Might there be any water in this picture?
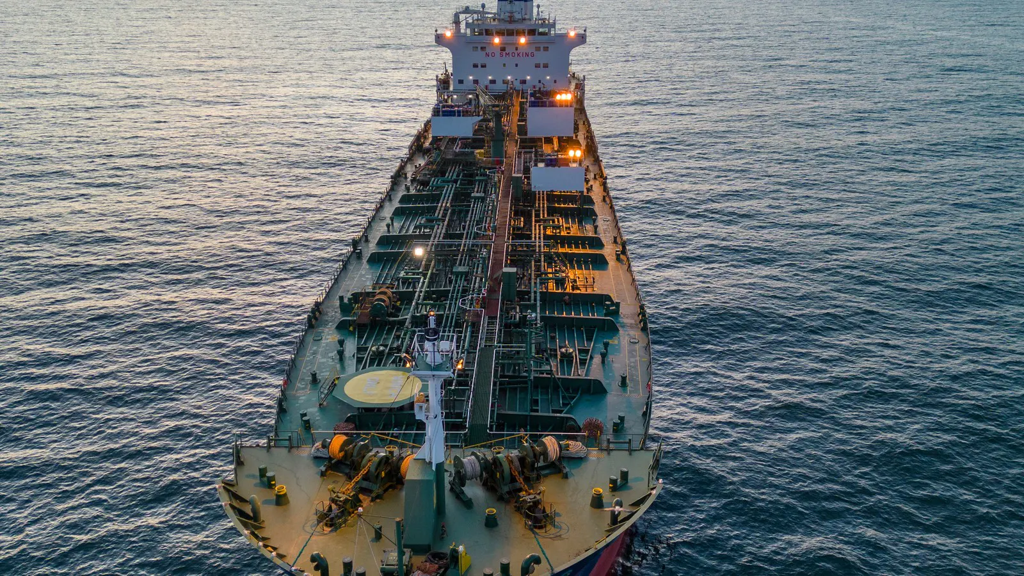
Yes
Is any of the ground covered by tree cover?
No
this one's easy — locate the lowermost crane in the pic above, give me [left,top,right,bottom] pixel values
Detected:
[476,83,508,162]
